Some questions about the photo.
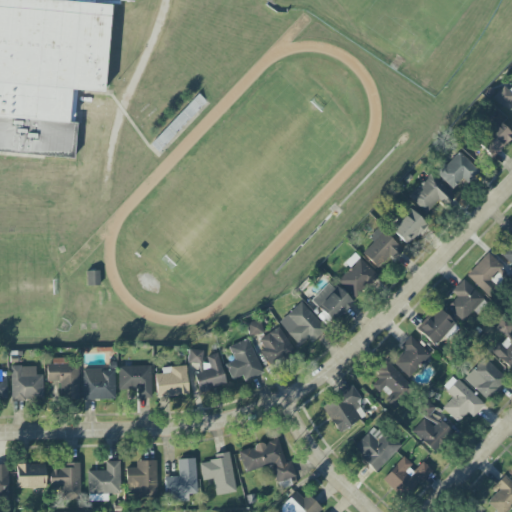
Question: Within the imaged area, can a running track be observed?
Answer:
Yes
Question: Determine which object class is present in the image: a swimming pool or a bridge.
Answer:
swimming pool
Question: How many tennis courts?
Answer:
0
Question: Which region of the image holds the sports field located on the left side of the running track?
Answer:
left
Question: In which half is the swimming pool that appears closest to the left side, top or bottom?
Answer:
bottom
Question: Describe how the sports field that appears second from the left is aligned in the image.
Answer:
at an angle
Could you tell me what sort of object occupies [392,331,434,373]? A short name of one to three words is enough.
house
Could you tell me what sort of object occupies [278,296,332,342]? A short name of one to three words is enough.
house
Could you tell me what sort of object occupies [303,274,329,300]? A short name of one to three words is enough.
swimming pool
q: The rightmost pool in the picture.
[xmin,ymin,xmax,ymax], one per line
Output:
[414,364,434,384]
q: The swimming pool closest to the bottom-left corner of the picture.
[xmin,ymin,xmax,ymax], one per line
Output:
[84,346,118,369]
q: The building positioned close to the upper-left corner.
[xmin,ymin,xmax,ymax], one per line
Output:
[0,0,122,158]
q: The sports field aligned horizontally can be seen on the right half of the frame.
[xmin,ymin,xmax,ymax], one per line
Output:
[315,0,473,65]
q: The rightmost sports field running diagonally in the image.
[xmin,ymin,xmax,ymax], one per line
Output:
[116,52,370,315]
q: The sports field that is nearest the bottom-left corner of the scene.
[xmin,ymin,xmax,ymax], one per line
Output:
[0,242,58,335]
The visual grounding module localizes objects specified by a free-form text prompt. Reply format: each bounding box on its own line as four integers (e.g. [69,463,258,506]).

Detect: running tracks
[104,14,382,326]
